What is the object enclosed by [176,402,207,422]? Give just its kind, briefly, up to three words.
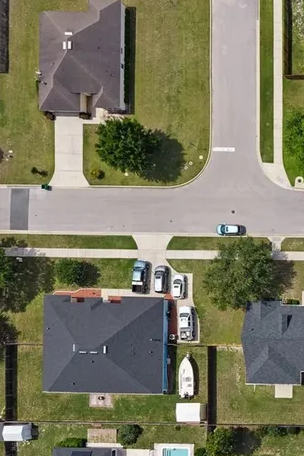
shed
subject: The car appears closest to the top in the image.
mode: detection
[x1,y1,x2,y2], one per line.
[217,223,246,235]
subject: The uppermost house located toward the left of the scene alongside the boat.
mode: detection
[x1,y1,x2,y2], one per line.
[43,295,169,394]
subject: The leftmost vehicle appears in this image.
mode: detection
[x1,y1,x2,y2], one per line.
[131,258,148,292]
